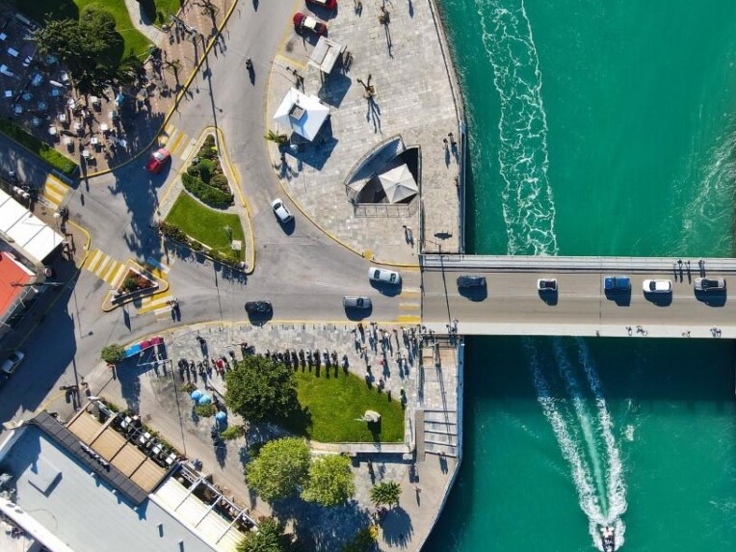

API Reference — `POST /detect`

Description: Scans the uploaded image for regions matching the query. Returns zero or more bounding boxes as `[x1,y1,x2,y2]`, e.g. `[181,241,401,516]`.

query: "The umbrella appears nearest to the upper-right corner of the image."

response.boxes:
[384,167,419,204]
